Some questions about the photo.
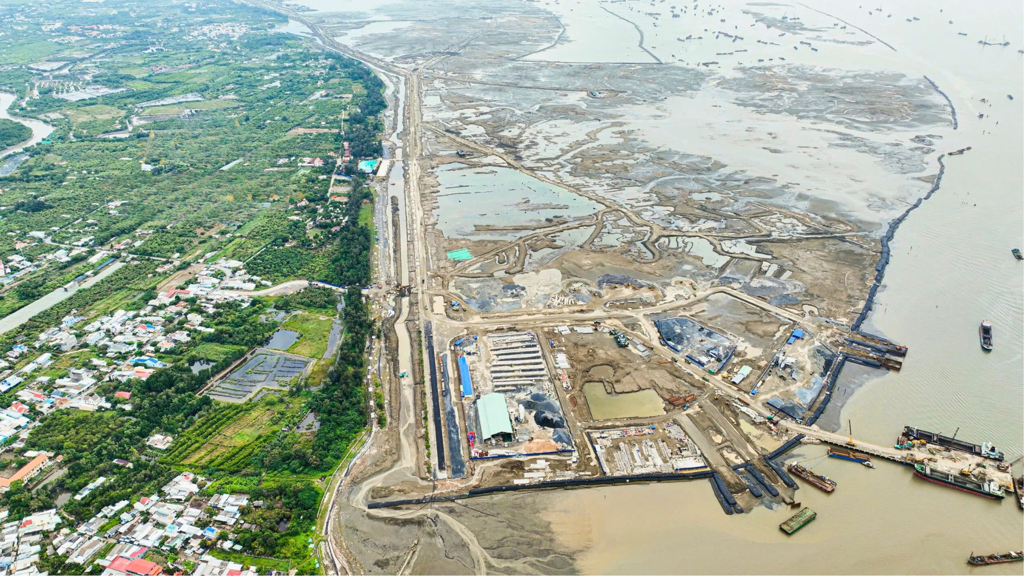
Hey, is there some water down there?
Yes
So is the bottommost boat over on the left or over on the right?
right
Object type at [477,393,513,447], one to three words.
building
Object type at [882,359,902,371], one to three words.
ship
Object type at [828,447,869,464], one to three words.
ship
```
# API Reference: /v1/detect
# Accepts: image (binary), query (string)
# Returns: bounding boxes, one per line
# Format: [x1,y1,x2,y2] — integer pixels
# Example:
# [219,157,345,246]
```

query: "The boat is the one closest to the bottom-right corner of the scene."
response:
[968,547,1024,568]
